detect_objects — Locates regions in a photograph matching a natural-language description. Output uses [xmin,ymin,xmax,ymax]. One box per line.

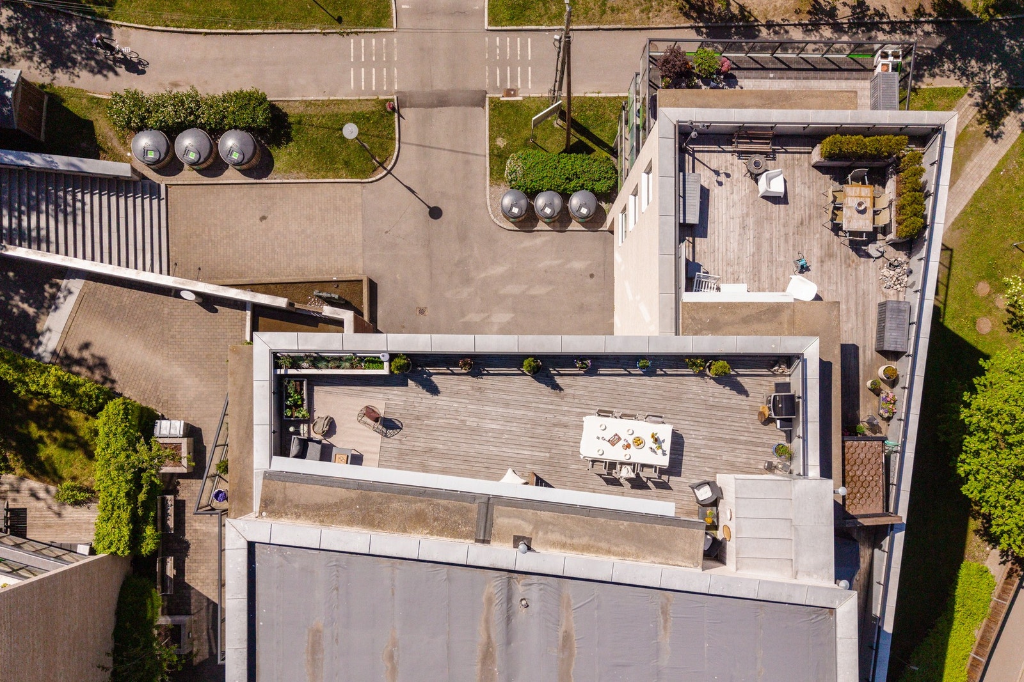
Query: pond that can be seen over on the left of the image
[192,277,372,334]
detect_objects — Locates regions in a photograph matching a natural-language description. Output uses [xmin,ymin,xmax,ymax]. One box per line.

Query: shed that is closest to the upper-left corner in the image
[0,67,54,144]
